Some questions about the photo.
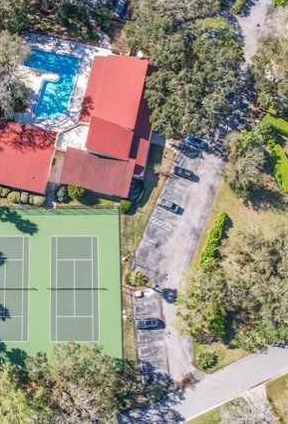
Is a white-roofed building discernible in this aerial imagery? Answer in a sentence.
No, I can see no white-roofed building in this picture.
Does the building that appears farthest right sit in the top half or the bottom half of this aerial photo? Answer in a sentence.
The building that appears farthest right sits in the top half of the picture.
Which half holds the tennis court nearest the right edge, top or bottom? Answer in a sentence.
The tennis court nearest the right edge sits in the bottom half of the picture.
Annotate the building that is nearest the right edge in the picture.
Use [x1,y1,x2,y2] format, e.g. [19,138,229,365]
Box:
[61,56,161,198]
